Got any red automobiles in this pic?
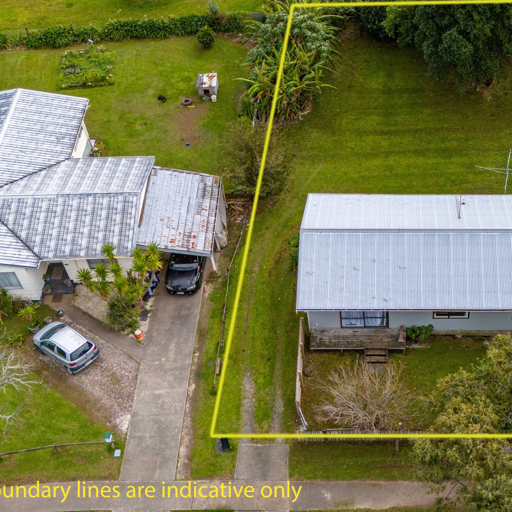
No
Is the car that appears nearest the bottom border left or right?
left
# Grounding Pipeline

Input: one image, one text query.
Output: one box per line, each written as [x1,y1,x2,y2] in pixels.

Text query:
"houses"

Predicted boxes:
[0,84,228,299]
[294,189,512,332]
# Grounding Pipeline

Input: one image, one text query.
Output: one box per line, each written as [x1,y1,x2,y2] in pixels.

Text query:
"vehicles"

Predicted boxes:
[27,316,102,377]
[165,253,208,296]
